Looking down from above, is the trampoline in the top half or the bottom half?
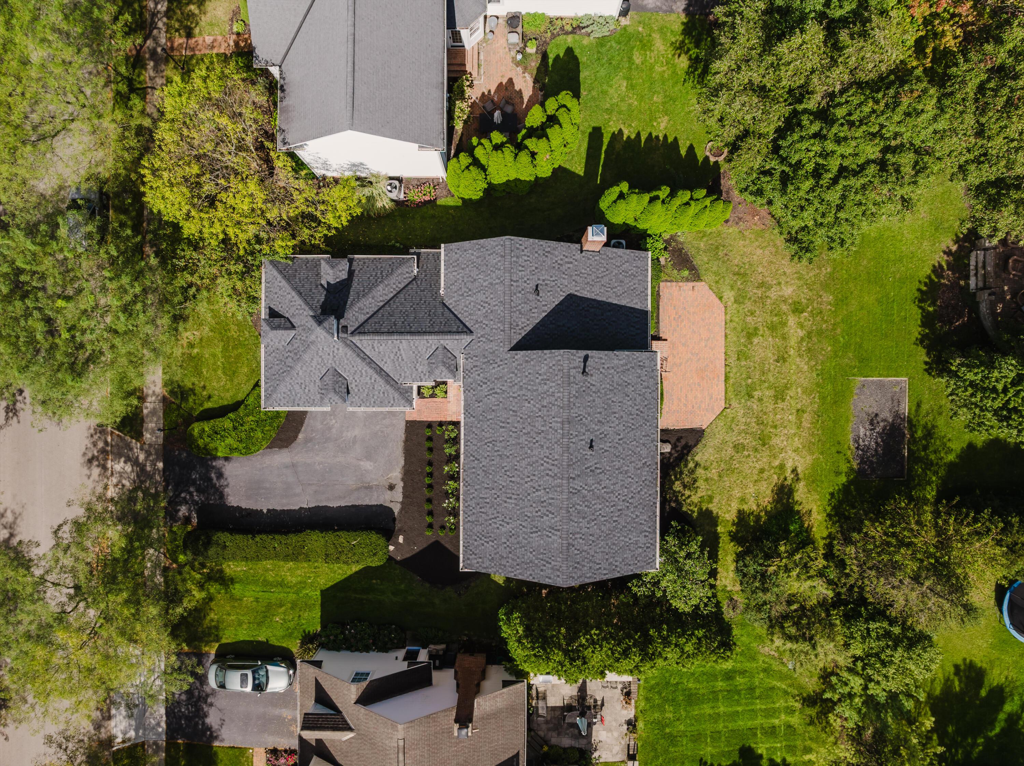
bottom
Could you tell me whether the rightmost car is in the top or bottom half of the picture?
bottom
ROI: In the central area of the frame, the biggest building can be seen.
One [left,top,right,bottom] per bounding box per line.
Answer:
[259,224,661,588]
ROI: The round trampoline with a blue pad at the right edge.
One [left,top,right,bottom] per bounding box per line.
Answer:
[991,579,1024,644]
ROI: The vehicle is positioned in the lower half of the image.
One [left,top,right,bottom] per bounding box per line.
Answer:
[208,652,295,697]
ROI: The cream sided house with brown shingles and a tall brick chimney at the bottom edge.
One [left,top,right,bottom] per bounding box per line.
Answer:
[294,644,528,766]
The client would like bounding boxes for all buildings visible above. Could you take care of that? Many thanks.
[241,0,627,186]
[259,224,661,588]
[294,644,528,766]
